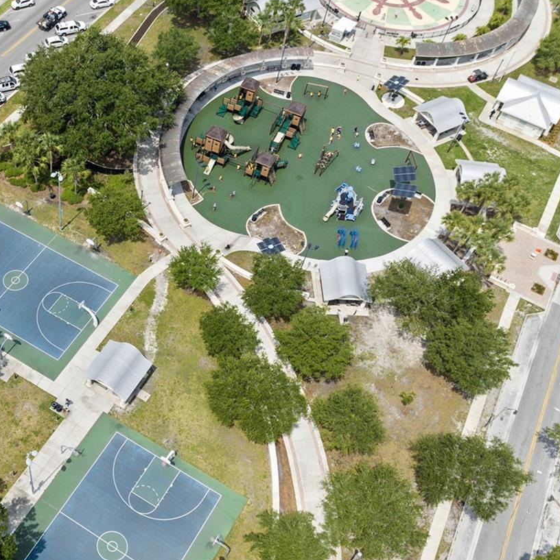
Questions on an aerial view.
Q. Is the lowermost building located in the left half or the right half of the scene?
left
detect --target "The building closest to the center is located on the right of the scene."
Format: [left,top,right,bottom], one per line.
[315,255,373,313]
